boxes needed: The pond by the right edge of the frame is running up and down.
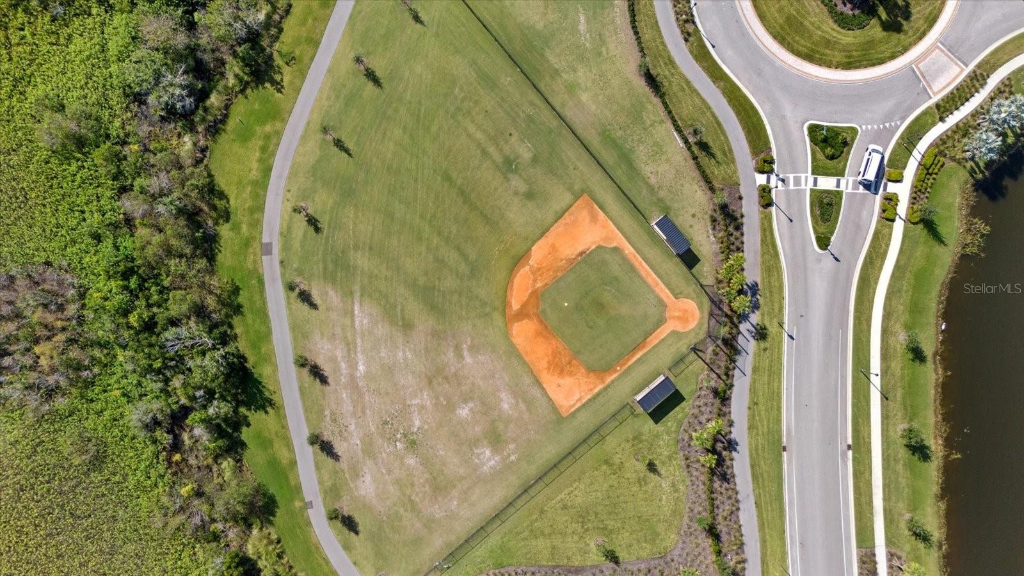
[938,138,1024,576]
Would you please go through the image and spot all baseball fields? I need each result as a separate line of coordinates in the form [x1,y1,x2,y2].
[280,0,710,576]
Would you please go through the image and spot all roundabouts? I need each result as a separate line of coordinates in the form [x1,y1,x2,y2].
[698,0,998,121]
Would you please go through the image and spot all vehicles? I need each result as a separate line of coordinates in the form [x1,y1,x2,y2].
[859,143,887,186]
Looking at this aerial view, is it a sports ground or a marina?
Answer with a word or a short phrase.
sports ground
